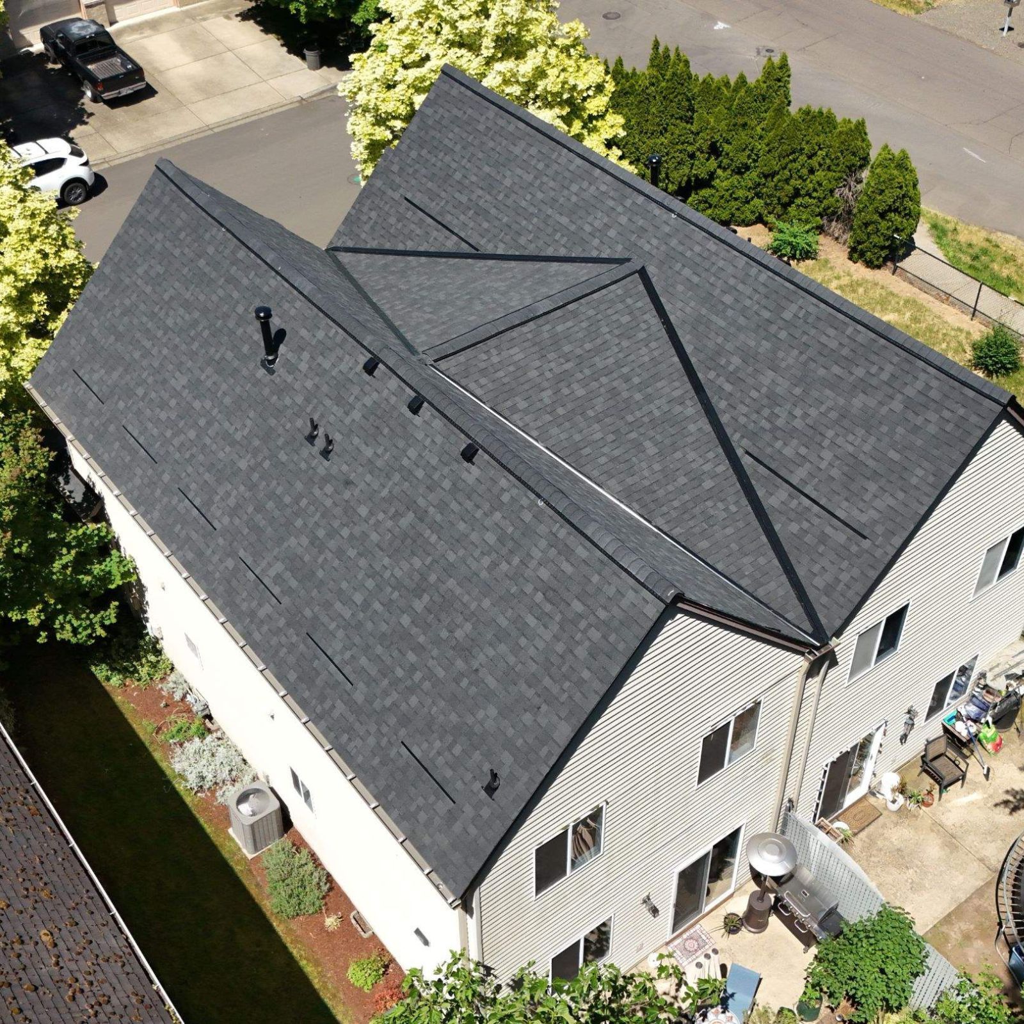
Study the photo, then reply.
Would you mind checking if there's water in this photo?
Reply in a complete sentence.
No, water can't be seen anywhere here.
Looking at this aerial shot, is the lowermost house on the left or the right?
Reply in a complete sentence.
You can find the lowermost house on the left side of the picture.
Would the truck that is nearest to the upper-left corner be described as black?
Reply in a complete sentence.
Yes, the truck that is nearest to the upper-left corner is indeed black.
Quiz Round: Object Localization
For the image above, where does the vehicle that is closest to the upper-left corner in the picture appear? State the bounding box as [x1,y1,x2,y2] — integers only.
[40,21,149,100]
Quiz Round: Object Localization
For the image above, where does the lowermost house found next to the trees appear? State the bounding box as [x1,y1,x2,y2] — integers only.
[0,723,185,1024]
